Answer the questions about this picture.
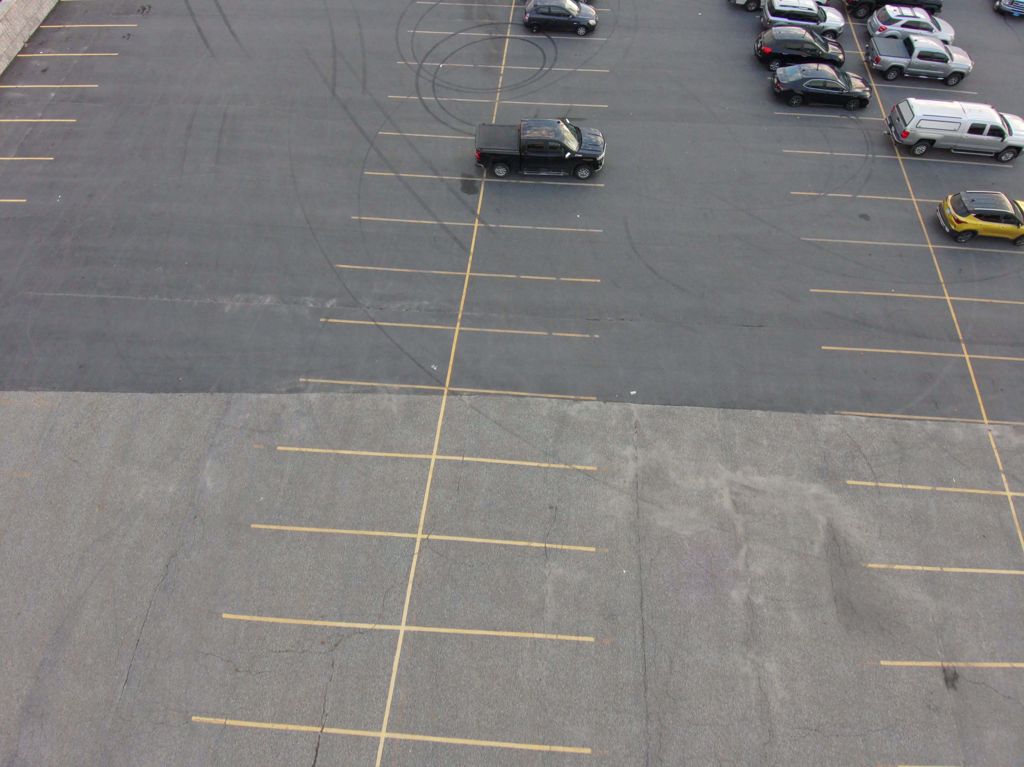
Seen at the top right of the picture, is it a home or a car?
car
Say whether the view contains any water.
No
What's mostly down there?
paved ground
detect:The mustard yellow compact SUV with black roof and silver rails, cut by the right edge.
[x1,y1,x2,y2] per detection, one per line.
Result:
[939,188,1024,246]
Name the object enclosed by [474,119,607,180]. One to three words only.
truck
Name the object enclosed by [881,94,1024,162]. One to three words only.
truck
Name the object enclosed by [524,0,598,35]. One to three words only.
car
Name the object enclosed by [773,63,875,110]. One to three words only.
car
